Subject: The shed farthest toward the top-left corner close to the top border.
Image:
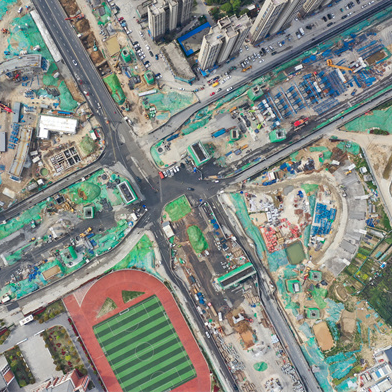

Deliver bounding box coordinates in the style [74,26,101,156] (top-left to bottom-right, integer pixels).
[29,10,62,62]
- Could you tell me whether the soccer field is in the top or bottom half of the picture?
bottom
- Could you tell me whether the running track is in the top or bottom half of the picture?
bottom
